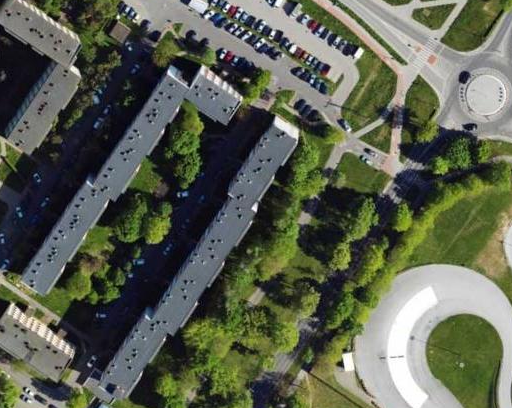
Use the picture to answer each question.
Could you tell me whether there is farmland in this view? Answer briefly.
No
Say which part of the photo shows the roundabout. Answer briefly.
top right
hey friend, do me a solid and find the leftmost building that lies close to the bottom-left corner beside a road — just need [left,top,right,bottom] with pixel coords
[0,299,73,383]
